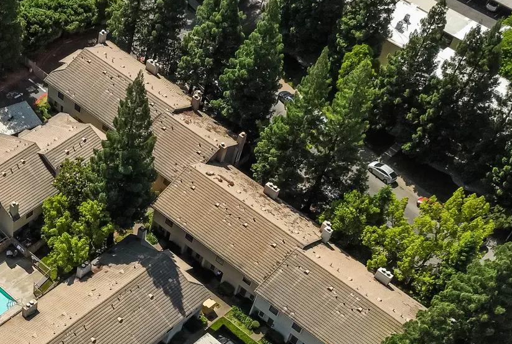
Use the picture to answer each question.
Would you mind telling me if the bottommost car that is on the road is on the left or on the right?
right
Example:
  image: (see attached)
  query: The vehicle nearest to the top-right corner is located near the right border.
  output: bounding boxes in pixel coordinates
[478,0,503,16]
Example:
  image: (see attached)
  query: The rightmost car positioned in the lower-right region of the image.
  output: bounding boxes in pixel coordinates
[464,237,504,265]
